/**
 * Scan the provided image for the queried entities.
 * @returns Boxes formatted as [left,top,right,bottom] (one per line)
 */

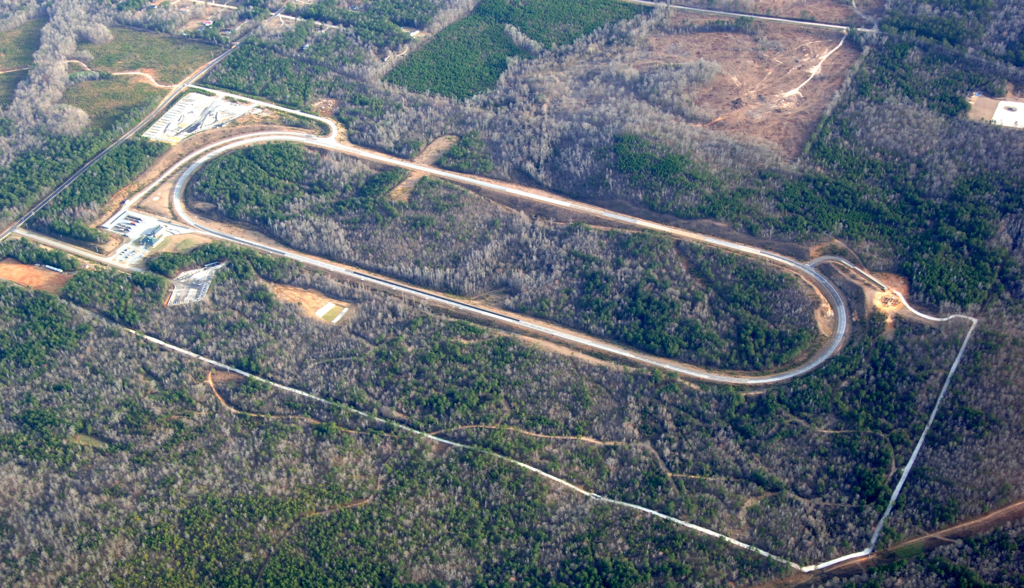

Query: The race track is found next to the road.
[171,136,847,384]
